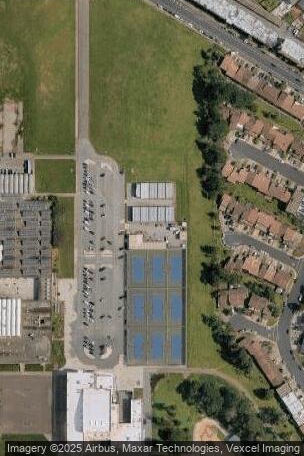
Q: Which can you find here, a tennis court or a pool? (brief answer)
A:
tennis court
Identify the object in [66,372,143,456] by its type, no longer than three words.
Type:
building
